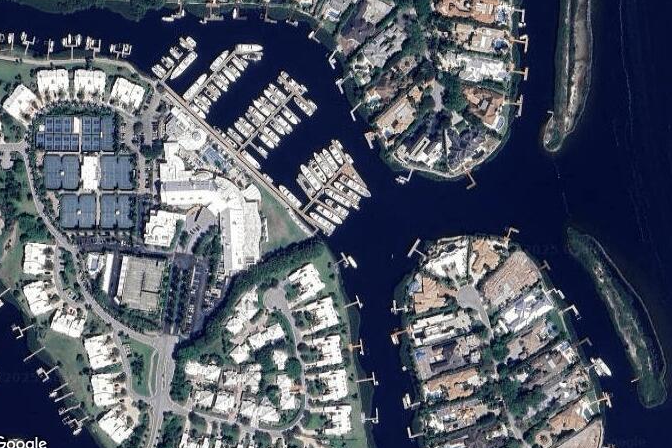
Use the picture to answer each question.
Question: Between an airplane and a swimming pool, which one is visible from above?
swimming pool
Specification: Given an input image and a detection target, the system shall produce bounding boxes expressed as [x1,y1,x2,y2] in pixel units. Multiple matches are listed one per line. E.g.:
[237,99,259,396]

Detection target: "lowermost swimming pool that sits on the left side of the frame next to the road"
[89,254,104,274]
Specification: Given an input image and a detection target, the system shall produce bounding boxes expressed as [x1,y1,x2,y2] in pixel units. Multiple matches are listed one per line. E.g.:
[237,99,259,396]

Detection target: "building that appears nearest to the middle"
[286,265,326,304]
